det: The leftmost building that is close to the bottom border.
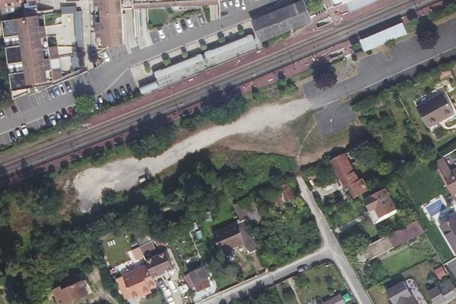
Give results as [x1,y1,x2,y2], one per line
[53,280,91,304]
